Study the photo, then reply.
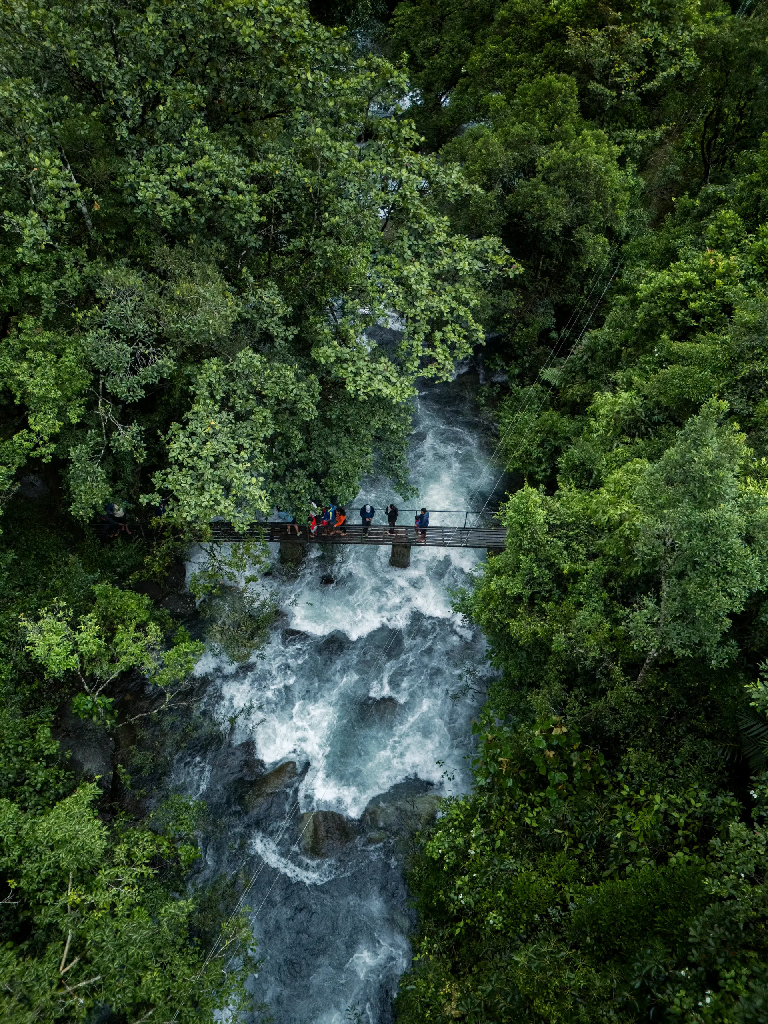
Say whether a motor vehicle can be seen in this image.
No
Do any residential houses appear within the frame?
No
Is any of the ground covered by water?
Yes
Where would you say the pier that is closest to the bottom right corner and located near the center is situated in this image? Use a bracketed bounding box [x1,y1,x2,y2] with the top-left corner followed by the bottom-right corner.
[390,551,410,573]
